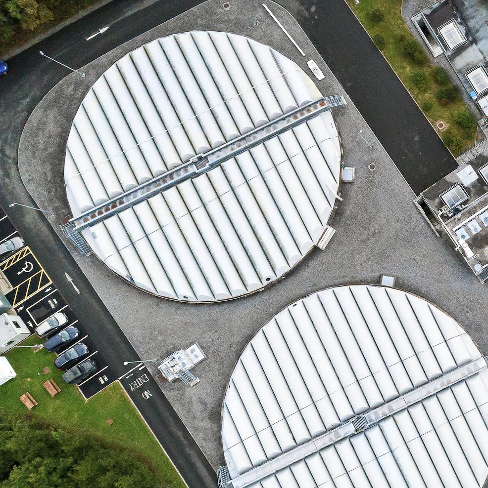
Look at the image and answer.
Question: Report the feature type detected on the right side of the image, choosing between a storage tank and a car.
storage tank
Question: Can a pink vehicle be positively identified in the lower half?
No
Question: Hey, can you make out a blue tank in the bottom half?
No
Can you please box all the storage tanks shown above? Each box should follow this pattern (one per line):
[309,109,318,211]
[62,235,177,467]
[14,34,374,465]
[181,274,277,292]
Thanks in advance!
[216,275,488,488]
[59,24,357,306]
